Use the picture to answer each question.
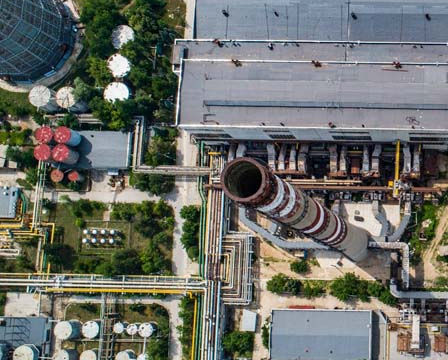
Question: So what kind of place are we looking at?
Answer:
industrial area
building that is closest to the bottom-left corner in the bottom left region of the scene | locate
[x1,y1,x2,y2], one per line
[0,315,56,346]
